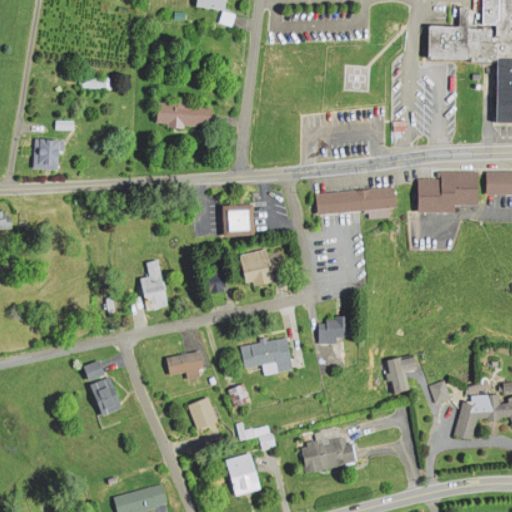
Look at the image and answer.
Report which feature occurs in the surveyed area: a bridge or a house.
house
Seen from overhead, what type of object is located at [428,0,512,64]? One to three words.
building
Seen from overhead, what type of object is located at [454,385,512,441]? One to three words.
house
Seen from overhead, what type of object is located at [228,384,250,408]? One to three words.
barn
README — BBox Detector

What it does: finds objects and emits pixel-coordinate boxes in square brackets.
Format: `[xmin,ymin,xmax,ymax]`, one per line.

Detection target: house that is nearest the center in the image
[240,250,272,286]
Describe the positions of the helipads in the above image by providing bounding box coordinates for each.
[344,64,370,92]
